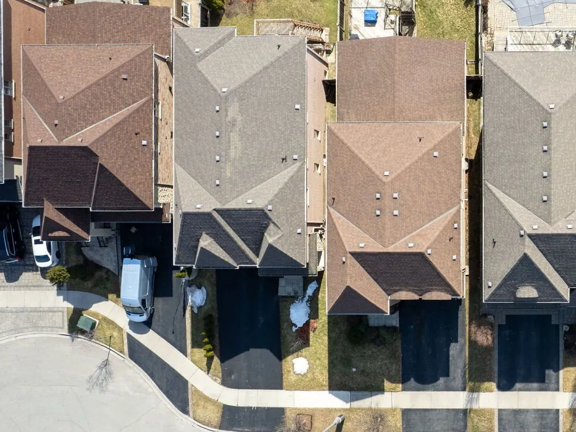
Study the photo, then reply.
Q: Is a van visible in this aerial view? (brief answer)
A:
Yes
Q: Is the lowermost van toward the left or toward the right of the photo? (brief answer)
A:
left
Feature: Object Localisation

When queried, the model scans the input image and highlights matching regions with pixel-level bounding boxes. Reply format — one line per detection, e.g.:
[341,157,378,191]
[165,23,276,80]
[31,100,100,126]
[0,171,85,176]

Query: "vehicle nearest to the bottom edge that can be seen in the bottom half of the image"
[119,252,160,322]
